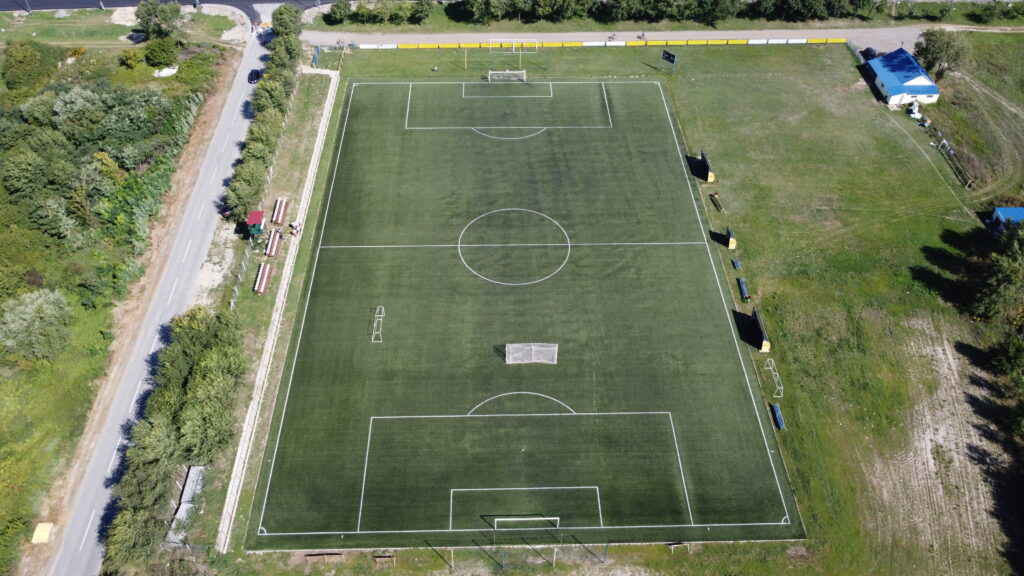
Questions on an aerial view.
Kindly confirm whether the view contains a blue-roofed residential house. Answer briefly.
Yes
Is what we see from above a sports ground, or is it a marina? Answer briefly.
sports ground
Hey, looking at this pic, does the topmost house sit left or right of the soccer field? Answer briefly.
on its right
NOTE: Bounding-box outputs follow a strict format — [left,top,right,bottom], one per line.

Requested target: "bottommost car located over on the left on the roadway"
[249,68,263,81]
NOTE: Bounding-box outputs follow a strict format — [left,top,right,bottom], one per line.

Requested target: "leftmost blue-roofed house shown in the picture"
[867,43,940,109]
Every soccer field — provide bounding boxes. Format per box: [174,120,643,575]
[241,76,809,554]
